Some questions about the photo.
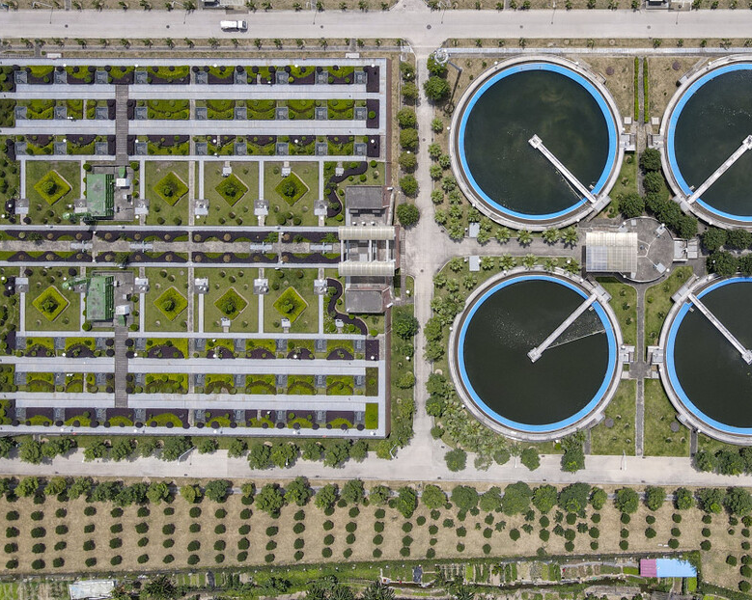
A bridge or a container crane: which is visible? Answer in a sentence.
There is a bridge in the scene.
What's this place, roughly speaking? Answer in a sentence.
The picture captures an industrial area.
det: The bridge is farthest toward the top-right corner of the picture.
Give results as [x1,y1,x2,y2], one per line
[685,137,752,206]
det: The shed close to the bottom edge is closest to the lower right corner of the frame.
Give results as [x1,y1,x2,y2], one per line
[640,554,697,576]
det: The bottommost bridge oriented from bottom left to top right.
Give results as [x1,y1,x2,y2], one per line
[531,292,605,360]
